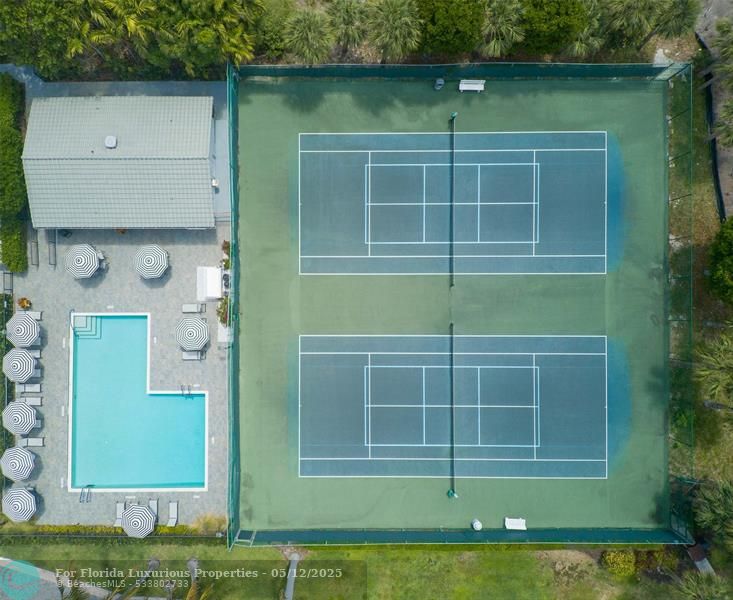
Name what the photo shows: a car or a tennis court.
tennis court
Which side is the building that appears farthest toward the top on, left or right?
left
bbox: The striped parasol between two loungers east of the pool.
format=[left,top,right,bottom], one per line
[174,317,210,353]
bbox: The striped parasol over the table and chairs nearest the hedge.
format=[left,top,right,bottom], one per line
[65,244,100,279]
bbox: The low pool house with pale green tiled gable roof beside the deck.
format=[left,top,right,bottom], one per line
[24,96,217,232]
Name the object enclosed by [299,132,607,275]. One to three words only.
tennis court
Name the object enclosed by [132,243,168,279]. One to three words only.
umbrella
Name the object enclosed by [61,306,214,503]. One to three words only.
swimming pool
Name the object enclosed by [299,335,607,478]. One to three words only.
tennis court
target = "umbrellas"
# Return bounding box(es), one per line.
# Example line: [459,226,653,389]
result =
[1,400,39,435]
[65,244,100,279]
[6,313,42,348]
[119,503,154,539]
[132,243,168,279]
[174,317,210,353]
[0,445,37,481]
[2,347,39,382]
[1,485,38,521]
